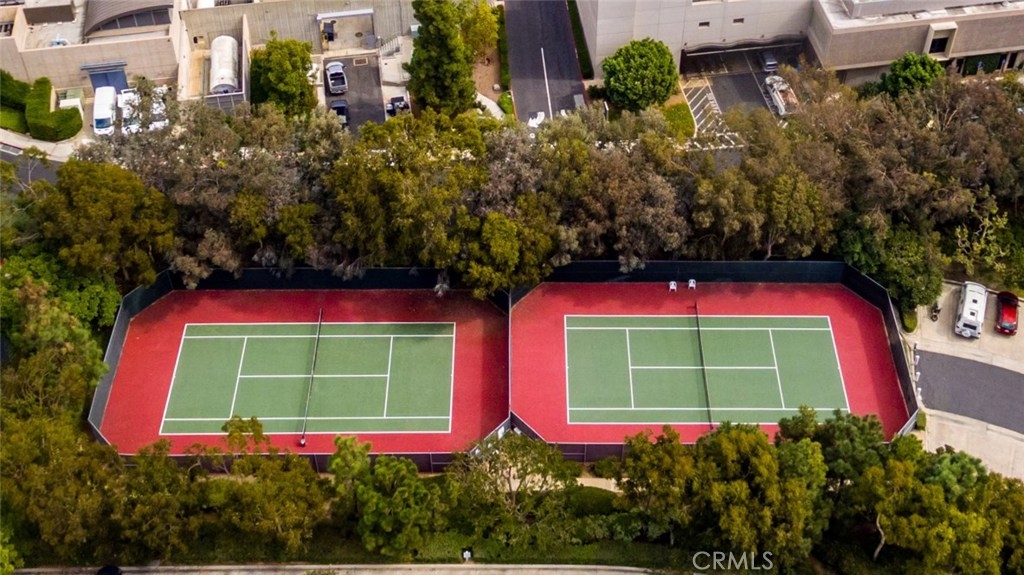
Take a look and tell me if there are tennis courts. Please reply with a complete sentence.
Yes, a tennis court appears in the view.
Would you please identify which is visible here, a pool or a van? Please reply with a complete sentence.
It is a van that can be seen here.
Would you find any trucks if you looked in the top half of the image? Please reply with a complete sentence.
Yes, a truck can be seen in the top half of the image.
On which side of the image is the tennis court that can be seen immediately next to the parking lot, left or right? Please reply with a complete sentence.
The tennis court that can be seen immediately next to the parking lot is on the right side of the image.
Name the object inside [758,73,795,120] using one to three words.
truck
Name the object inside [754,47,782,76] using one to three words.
car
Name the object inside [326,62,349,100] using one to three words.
truck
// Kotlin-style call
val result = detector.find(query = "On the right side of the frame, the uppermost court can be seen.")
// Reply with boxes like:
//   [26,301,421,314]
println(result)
[511,282,909,446]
